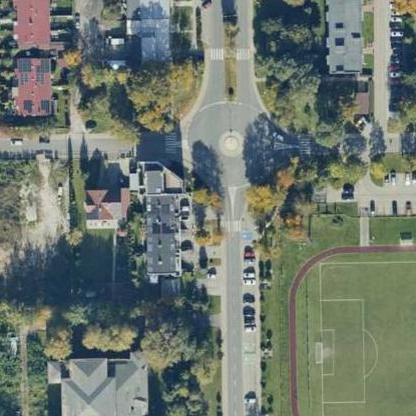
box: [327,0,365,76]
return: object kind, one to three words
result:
building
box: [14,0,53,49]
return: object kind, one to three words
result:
house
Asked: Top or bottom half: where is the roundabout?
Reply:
top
